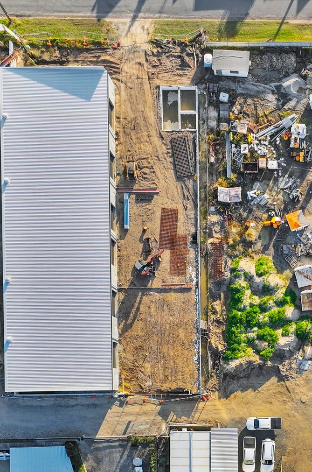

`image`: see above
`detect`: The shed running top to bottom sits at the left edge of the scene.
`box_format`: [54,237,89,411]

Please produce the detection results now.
[0,64,118,392]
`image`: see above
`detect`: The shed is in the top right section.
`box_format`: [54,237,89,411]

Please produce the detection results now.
[212,49,249,75]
